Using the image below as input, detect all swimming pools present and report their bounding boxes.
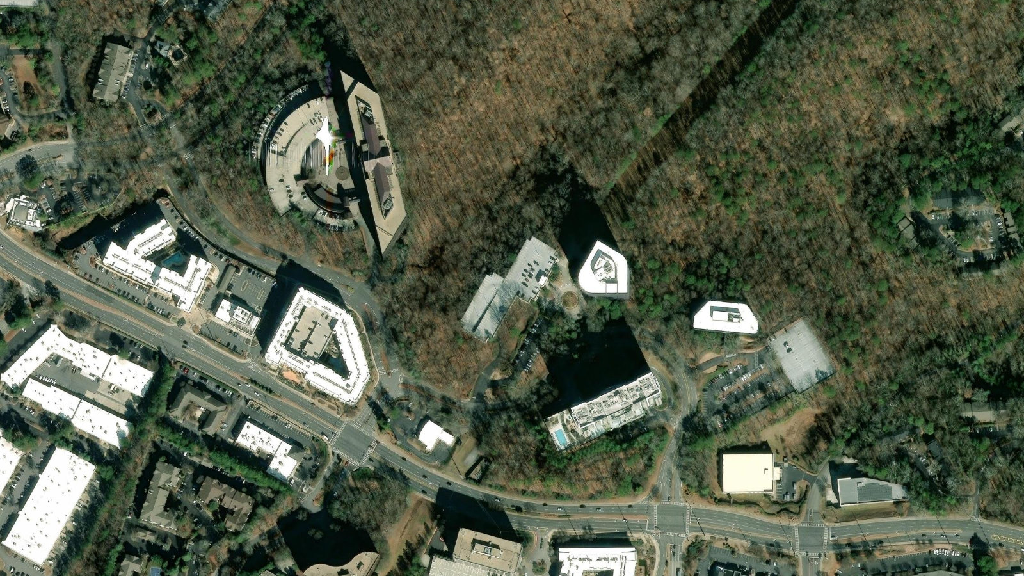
[324,356,344,373]
[555,429,567,446]
[163,252,183,268]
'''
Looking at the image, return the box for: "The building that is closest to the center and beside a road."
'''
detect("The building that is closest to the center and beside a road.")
[578,240,630,299]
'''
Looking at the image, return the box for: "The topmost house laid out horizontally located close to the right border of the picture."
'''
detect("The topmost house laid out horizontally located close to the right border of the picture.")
[933,188,984,208]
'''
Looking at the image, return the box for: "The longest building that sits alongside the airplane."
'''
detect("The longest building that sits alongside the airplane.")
[340,71,409,258]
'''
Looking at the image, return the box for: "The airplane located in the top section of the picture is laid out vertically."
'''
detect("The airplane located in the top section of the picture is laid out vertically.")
[316,116,336,176]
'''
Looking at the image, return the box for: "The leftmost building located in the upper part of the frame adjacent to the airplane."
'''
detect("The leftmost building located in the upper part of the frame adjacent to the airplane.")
[304,183,350,214]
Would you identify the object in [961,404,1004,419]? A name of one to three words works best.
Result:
house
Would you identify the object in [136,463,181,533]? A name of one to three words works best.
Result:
building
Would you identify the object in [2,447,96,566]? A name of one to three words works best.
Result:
building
